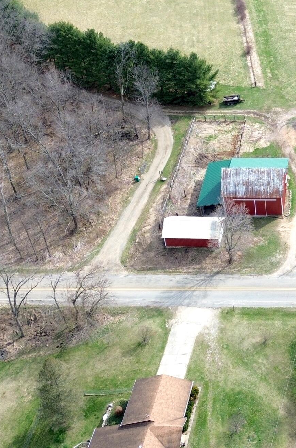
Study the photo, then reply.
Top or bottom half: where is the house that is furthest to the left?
bottom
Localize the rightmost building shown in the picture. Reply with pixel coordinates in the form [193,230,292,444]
[197,158,289,215]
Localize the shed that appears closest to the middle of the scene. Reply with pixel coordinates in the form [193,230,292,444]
[162,211,227,247]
